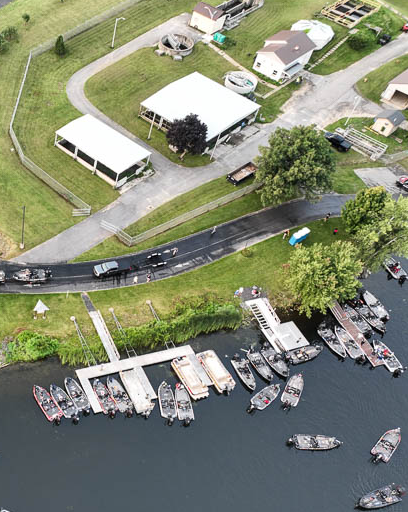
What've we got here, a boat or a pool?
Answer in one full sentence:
It is a boat that can be seen here.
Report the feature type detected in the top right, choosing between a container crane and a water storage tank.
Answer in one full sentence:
The feature located in the top right is a water storage tank.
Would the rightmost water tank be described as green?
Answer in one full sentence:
No, the rightmost water tank is white.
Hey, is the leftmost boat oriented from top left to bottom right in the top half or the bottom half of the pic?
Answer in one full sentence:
Seen from above, the leftmost boat oriented from top left to bottom right lies in the bottom half of the view.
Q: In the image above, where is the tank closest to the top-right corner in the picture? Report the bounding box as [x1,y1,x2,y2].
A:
[294,21,340,53]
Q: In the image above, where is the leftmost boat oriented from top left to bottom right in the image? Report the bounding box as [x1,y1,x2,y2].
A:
[33,385,61,426]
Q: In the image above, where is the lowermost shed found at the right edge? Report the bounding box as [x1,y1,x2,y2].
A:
[372,109,408,137]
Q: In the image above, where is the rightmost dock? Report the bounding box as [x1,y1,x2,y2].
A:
[330,301,385,368]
